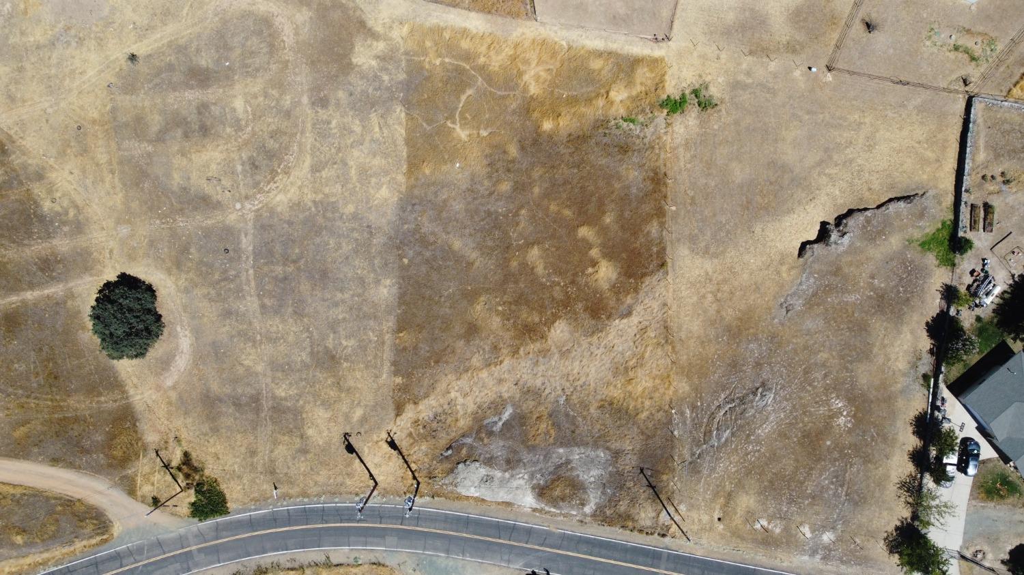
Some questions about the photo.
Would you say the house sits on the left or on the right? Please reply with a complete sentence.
You can find the house on the right side of the picture.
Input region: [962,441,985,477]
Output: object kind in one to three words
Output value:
car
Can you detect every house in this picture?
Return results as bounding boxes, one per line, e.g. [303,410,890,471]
[955,348,1024,468]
